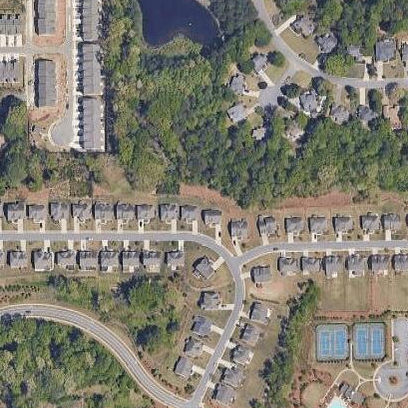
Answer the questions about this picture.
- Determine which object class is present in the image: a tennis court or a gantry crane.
tennis court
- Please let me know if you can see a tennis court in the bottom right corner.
Yes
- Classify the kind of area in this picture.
residential area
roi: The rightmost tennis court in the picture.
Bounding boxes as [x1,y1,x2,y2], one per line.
[353,322,387,360]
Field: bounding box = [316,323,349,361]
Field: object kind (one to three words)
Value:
tennis court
